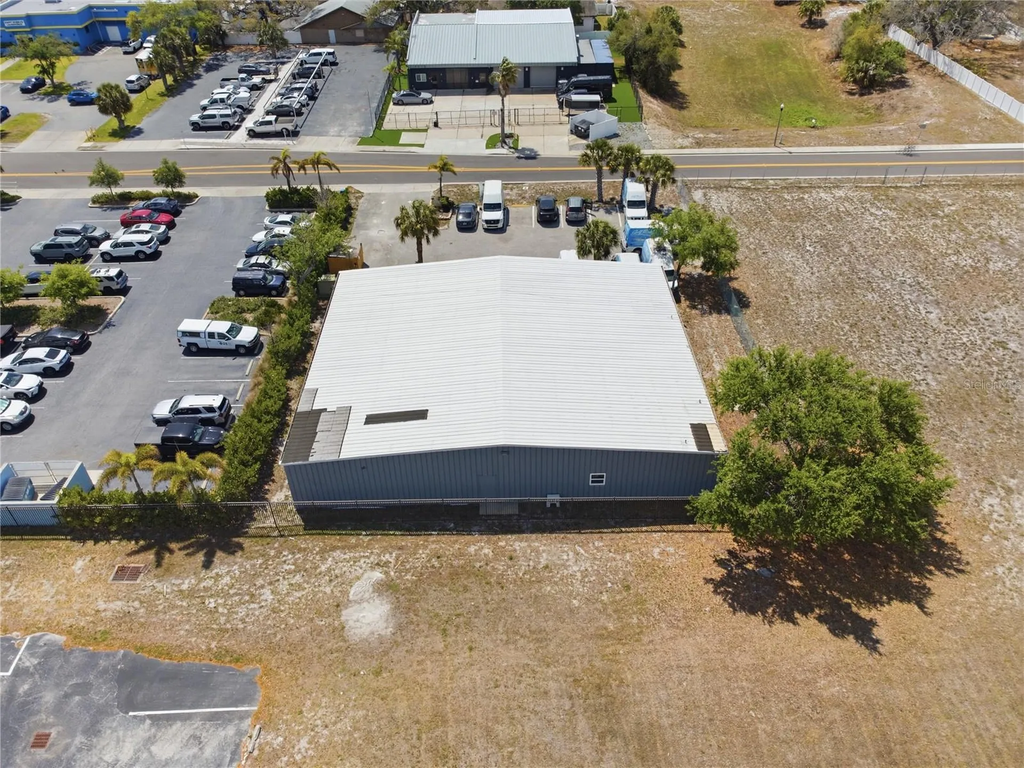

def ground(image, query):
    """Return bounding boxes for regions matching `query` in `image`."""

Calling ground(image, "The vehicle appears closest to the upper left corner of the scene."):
[17,76,56,91]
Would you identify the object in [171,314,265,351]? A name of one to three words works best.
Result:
truck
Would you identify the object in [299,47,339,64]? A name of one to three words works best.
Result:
car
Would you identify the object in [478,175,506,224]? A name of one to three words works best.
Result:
van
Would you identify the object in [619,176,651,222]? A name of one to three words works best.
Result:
van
